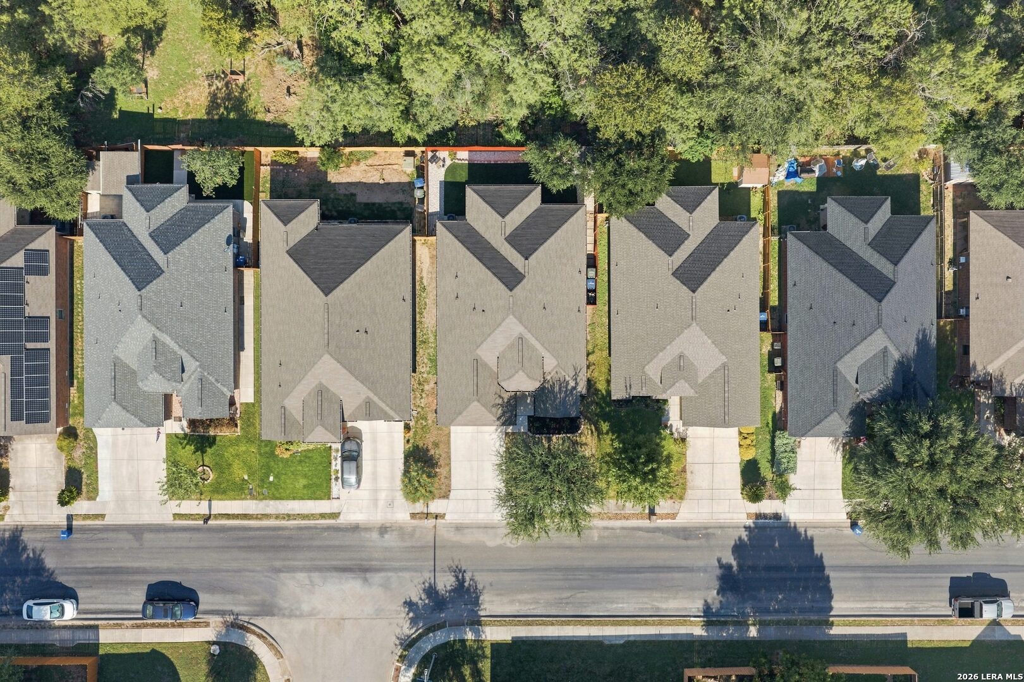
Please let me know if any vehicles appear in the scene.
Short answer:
Yes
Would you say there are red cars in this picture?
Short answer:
No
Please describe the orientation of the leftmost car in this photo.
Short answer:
from side to side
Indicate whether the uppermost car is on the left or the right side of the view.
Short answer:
left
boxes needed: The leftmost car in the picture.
[25,597,82,623]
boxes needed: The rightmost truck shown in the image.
[946,594,1011,623]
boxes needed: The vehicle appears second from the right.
[338,437,364,490]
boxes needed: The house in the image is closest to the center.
[436,184,587,427]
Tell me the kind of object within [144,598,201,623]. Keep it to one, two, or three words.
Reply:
car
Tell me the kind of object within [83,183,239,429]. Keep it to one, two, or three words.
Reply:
house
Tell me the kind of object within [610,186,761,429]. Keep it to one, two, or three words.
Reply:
house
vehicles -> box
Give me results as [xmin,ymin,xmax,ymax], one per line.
[144,598,201,623]
[25,597,82,623]
[338,437,364,490]
[946,594,1011,623]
